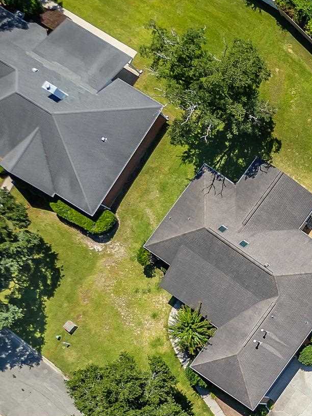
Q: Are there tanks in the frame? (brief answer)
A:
No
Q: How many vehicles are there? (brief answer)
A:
none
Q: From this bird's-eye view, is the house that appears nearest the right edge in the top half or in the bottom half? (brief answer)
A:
bottom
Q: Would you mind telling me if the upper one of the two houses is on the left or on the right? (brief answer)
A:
left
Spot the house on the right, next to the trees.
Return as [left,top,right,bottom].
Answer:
[144,156,312,411]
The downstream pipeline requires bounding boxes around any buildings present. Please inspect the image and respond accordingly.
[0,7,170,217]
[144,156,312,411]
